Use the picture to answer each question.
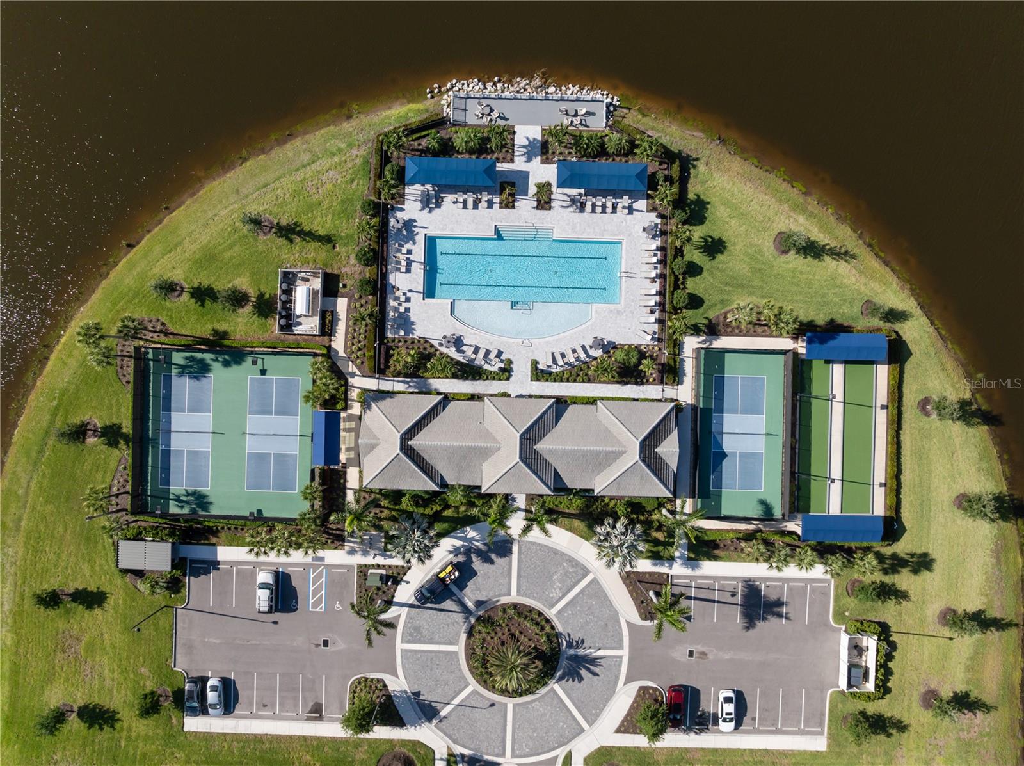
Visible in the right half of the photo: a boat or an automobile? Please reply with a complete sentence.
There is an automobile in the right half of the photo.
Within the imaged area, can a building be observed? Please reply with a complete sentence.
Yes, the frame does contain a building.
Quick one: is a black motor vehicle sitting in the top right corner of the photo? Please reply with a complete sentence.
No, there's no black motor vehicle to be seen in the top right corner of the photo.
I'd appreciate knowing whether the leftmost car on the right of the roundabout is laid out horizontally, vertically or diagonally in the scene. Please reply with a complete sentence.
In this picture, the leftmost car on the right of the roundabout is oriented vertically.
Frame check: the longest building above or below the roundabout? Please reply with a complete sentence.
From this view, the longest building can be seen above the roundabout.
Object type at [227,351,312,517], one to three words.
sports court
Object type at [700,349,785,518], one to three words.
sports court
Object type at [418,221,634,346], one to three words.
swimming pool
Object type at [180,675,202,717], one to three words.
car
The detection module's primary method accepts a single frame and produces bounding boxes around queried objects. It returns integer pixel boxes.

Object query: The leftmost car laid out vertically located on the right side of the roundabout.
[666,686,686,727]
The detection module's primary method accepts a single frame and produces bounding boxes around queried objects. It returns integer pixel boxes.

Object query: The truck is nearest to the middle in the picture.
[416,558,464,603]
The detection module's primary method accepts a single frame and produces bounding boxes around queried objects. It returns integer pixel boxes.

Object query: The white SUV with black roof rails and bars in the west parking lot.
[256,569,278,614]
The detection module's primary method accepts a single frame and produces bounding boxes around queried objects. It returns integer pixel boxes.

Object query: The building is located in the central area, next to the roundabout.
[358,392,680,498]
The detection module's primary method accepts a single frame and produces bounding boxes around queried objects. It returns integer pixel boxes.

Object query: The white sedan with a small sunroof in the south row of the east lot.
[717,689,737,732]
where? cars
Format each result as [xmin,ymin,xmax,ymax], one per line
[666,686,686,727]
[180,675,202,717]
[717,689,737,732]
[203,677,224,717]
[256,569,278,614]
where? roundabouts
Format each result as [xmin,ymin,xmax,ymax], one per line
[390,531,635,766]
